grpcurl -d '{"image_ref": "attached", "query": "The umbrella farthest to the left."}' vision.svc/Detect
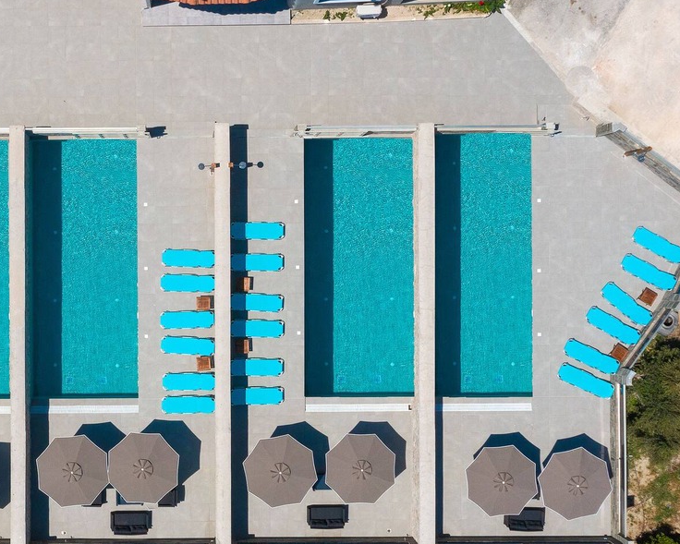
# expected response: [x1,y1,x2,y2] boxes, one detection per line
[37,436,108,507]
